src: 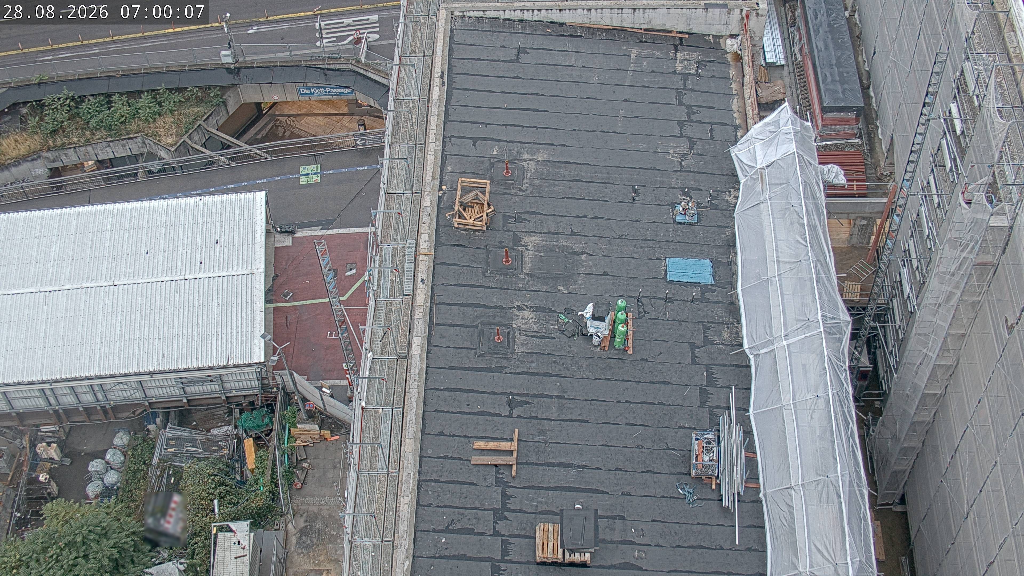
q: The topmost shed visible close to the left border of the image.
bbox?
[0,191,278,427]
